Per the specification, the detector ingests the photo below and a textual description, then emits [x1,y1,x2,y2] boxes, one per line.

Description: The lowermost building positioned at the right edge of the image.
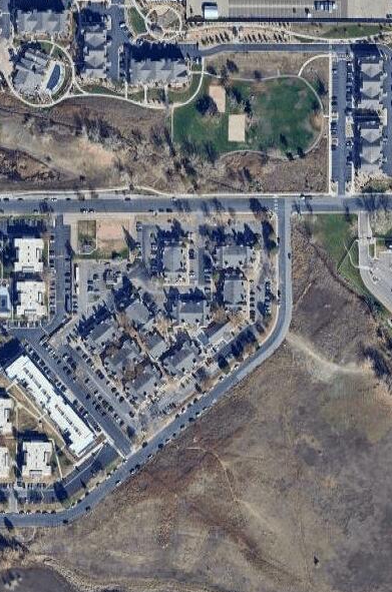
[360,122,385,174]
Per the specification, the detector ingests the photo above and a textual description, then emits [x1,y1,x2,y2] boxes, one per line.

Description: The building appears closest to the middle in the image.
[175,298,209,323]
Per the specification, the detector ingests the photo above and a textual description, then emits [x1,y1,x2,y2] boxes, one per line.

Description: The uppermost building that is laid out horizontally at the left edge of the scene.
[15,9,70,35]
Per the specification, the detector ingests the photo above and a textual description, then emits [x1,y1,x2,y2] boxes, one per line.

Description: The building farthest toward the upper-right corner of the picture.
[360,56,385,112]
